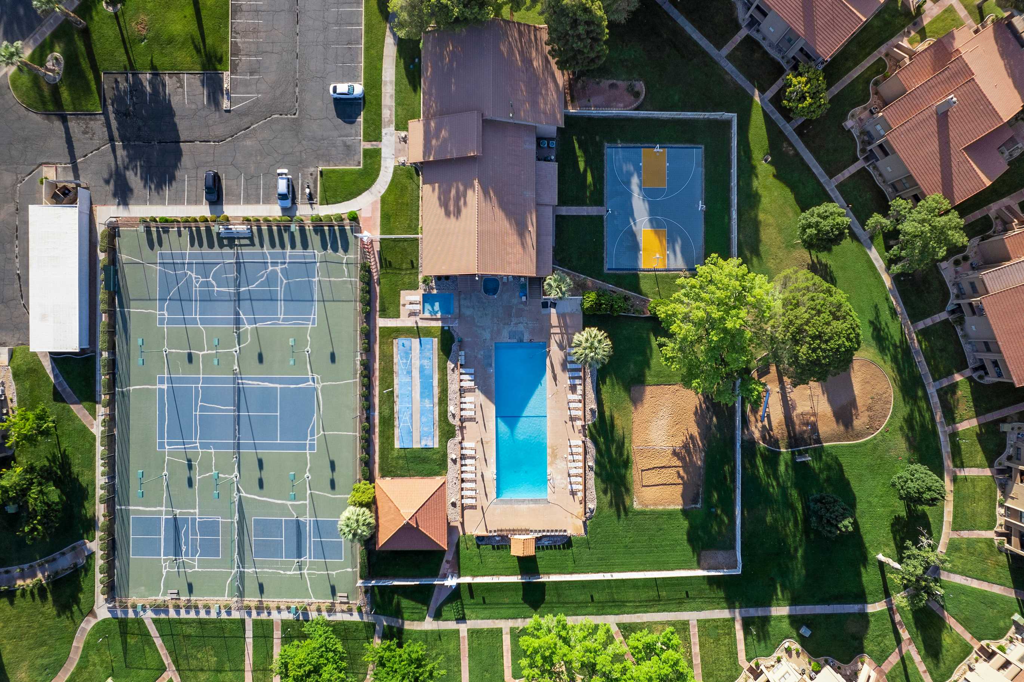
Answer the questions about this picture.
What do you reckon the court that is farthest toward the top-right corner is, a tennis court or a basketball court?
basketball court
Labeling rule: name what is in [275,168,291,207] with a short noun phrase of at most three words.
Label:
car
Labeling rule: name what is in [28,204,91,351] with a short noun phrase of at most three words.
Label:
shed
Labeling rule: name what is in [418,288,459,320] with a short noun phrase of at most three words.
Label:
swimming pool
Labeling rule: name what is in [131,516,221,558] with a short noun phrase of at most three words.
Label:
sports court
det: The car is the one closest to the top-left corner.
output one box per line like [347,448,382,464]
[201,169,219,201]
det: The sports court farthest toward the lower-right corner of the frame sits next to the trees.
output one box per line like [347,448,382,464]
[631,384,706,511]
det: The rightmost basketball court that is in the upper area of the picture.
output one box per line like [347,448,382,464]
[607,147,702,270]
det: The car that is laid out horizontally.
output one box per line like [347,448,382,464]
[328,81,362,97]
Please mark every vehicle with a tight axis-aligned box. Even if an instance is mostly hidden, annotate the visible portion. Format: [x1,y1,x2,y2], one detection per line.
[275,168,291,207]
[328,81,362,97]
[303,183,309,197]
[201,169,219,201]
